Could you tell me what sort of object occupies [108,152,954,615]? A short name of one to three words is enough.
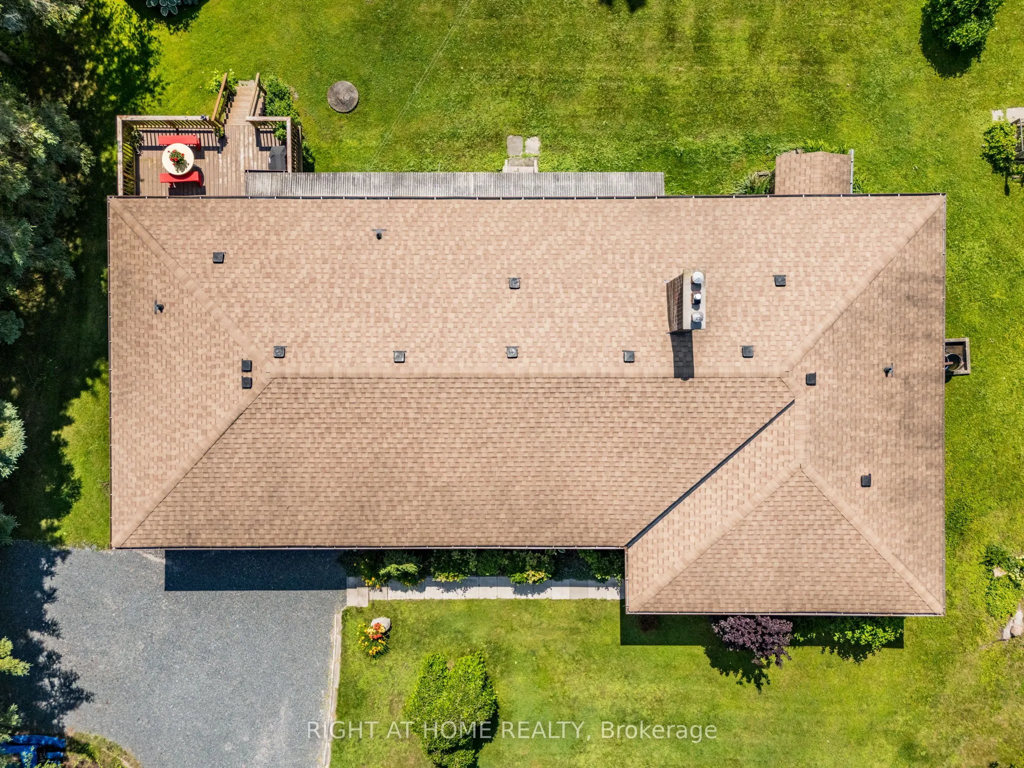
house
